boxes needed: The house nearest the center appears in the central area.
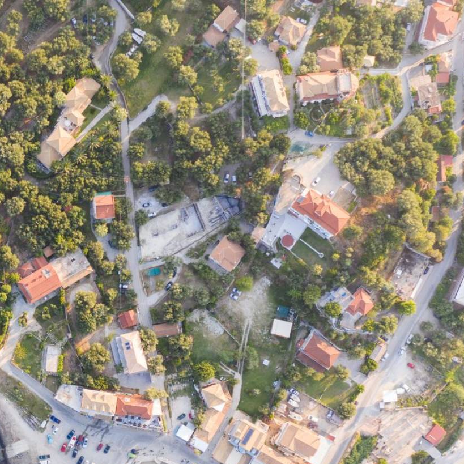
[208,236,245,272]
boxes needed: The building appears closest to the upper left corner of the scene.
[34,76,101,167]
